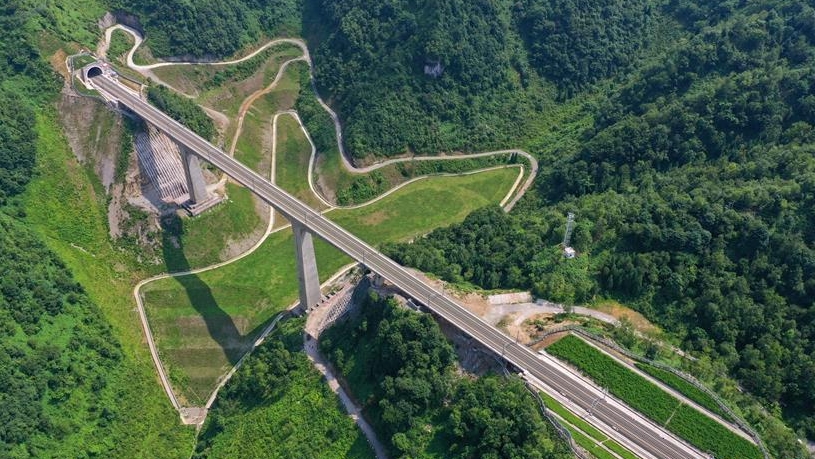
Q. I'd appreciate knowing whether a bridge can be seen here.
Yes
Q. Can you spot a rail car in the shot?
No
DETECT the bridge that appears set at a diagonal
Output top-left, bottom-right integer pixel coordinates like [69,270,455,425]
[114,91,544,377]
